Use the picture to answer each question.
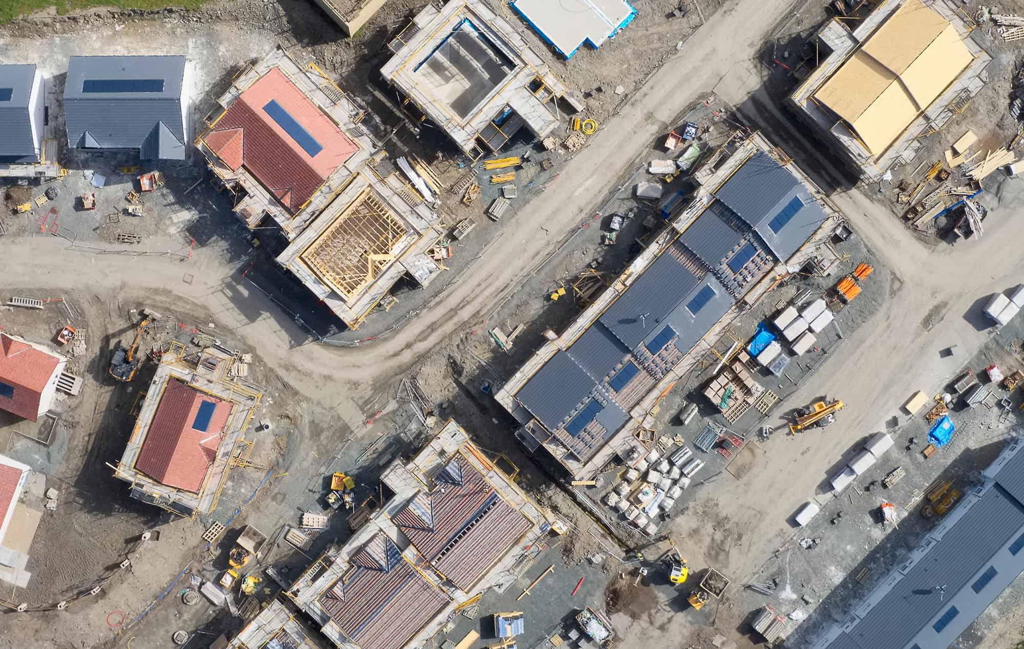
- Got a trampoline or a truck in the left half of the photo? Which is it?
truck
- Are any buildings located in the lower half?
Yes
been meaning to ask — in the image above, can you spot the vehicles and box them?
[222,527,263,574]
[683,571,732,614]
[660,532,694,589]
[774,398,847,438]
[103,306,161,386]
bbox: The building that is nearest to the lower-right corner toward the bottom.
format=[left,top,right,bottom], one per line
[810,438,1024,649]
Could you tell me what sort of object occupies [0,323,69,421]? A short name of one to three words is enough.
house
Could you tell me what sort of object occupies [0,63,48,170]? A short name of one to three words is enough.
house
